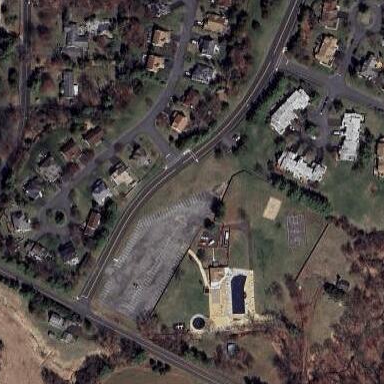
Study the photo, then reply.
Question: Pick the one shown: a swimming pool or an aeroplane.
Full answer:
Of the two, only a swimming pool appears.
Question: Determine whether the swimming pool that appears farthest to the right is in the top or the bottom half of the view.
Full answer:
Seen from above, the swimming pool that appears farthest to the right lies in the bottom half of the view.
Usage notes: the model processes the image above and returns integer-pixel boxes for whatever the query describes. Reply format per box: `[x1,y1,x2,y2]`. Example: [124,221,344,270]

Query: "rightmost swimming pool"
[210,268,267,328]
